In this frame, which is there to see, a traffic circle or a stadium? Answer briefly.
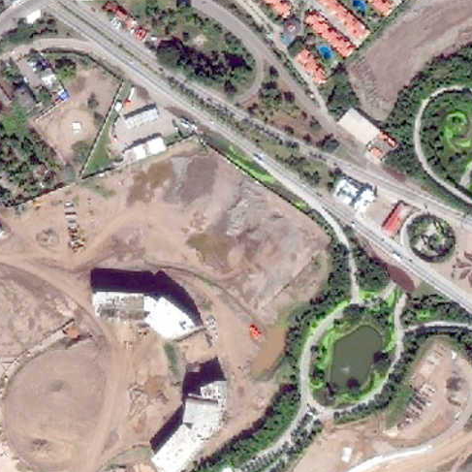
traffic circle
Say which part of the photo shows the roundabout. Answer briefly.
right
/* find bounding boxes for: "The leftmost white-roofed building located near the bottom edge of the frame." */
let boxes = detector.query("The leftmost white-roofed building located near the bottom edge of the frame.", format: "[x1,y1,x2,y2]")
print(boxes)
[151,423,203,472]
